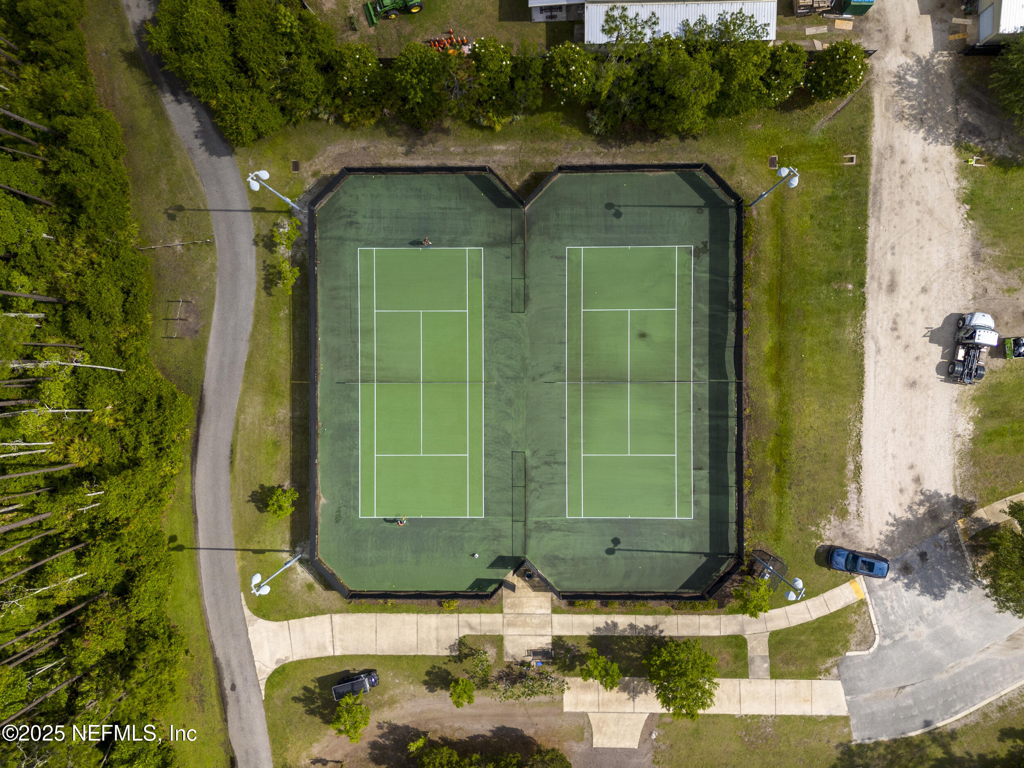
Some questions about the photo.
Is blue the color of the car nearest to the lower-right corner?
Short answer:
Yes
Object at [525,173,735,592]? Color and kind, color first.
green tennis court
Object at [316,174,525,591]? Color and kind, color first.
green tennis court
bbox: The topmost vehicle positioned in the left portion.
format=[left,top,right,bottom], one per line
[370,0,424,27]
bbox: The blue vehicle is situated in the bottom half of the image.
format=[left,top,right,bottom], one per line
[825,549,893,579]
